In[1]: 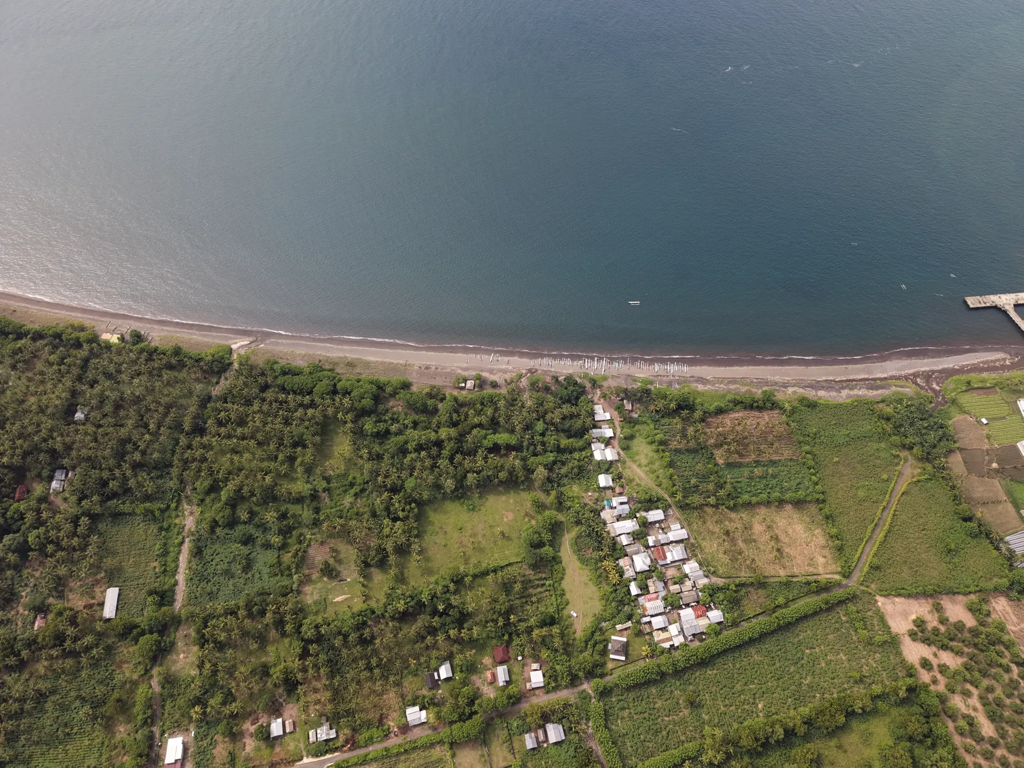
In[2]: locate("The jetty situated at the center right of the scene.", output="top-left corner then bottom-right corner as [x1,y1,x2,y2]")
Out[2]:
[964,292,1024,331]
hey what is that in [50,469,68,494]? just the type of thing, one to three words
house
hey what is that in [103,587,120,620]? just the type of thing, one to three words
barn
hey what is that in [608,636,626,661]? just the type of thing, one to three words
house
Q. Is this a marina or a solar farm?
marina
